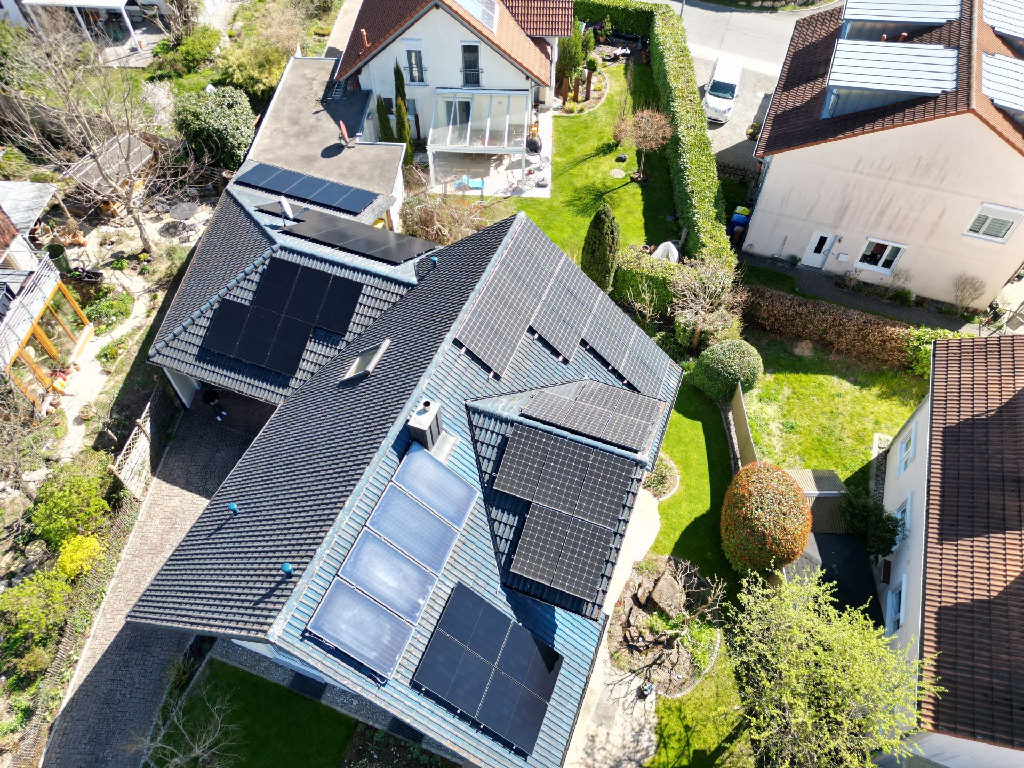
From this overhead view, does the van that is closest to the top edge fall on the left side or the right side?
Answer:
right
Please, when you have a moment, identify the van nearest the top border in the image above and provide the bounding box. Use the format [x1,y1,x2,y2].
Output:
[705,54,745,122]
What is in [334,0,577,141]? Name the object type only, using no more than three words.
house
